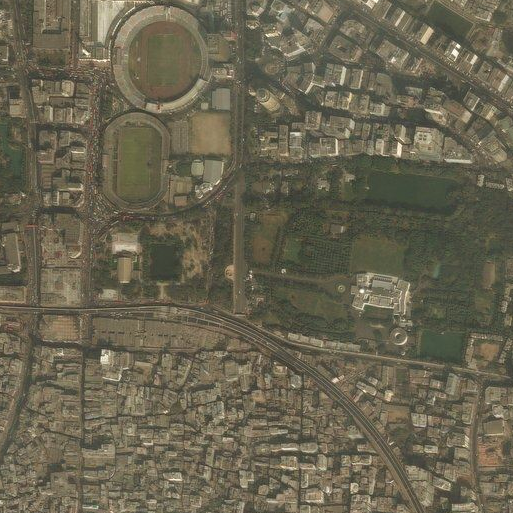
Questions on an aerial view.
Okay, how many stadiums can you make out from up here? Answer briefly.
2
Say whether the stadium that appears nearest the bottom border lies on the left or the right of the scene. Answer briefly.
left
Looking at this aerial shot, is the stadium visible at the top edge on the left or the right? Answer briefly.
left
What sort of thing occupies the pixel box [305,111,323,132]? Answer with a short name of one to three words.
building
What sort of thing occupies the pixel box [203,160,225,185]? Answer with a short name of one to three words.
building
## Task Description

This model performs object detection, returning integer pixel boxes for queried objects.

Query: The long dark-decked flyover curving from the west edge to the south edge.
[0,303,427,513]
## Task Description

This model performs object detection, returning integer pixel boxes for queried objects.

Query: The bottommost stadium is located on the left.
[102,112,169,211]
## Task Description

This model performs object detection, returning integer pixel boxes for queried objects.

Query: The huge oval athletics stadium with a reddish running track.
[115,8,209,113]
